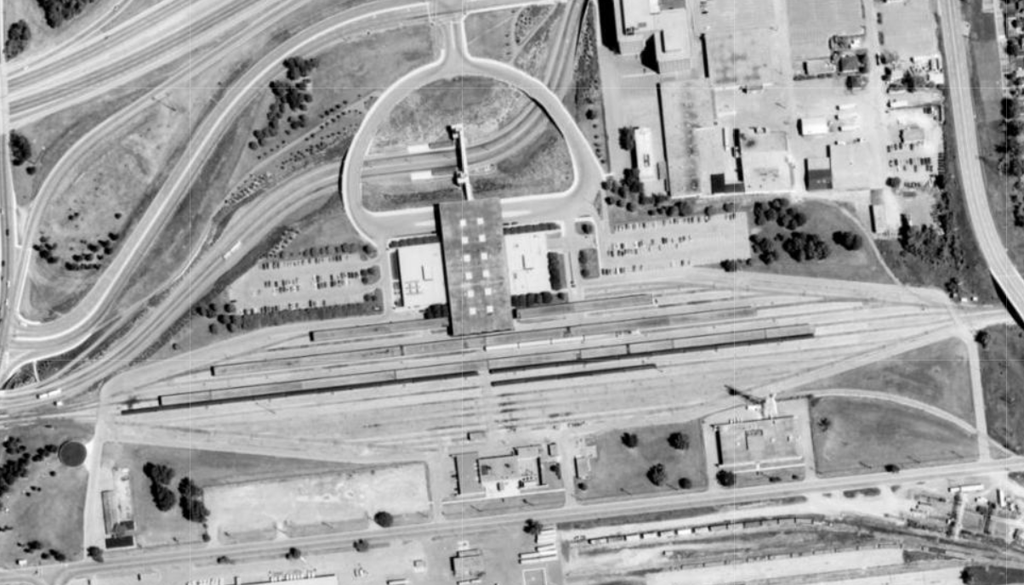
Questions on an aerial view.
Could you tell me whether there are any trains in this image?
Yes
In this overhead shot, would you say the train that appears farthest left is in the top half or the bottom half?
bottom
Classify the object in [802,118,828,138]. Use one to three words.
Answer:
shed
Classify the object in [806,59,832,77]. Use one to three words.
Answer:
building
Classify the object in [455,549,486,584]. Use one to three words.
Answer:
building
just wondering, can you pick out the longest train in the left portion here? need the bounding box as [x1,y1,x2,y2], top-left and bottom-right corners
[122,372,478,415]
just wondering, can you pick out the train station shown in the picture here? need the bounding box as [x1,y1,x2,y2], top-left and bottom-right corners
[398,198,553,337]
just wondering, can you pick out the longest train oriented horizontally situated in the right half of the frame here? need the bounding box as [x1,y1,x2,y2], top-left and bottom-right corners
[491,334,814,374]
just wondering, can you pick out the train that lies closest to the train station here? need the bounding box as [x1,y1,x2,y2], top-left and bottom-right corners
[486,336,584,351]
